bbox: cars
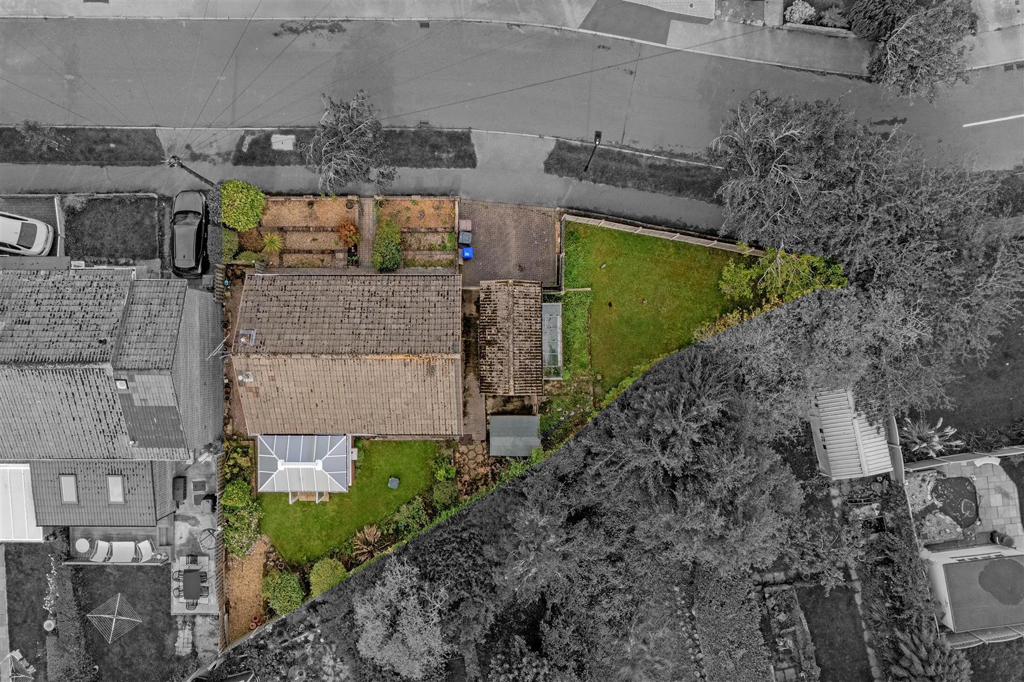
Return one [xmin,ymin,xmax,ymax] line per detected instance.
[0,212,58,257]
[167,190,213,278]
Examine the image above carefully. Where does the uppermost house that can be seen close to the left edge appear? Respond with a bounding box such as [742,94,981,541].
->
[0,257,218,460]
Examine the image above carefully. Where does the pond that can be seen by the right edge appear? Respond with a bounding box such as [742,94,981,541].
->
[931,476,977,528]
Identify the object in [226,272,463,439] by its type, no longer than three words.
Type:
house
